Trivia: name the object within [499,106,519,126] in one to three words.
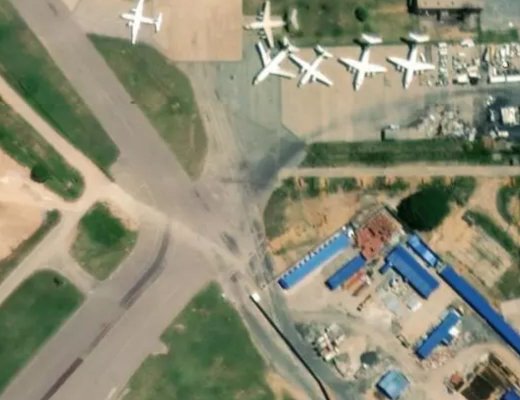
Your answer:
shed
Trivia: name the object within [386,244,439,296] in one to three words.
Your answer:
building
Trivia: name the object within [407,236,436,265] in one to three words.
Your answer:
shed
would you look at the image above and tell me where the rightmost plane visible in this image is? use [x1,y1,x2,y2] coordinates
[389,33,436,89]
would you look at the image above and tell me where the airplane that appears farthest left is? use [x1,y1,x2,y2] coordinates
[120,0,164,43]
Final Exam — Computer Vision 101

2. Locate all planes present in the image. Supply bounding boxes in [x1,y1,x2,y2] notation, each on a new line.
[120,0,164,43]
[389,33,436,89]
[253,37,300,84]
[243,1,300,47]
[290,45,333,86]
[340,34,388,90]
